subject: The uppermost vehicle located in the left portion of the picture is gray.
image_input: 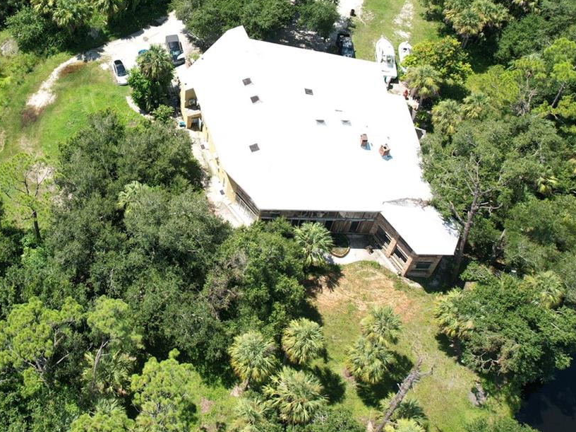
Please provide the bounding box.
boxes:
[164,35,189,64]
